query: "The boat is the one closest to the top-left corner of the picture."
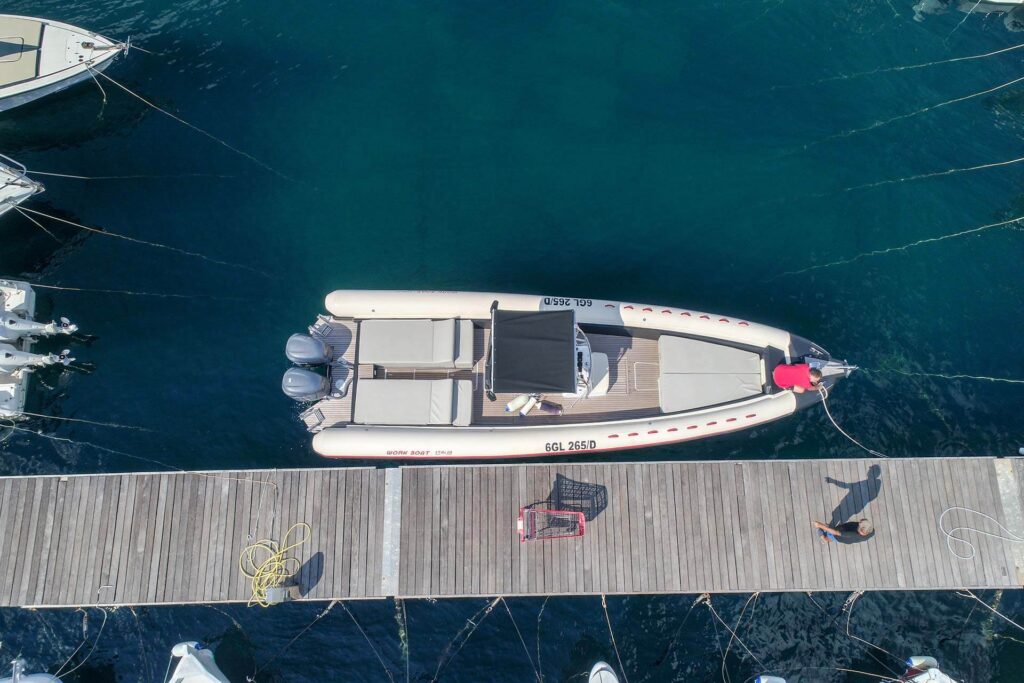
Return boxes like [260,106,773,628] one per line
[0,14,132,111]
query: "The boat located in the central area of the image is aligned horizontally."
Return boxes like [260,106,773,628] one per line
[284,288,859,459]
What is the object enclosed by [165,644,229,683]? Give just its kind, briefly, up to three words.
boat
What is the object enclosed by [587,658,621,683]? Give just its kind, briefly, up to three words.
boat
